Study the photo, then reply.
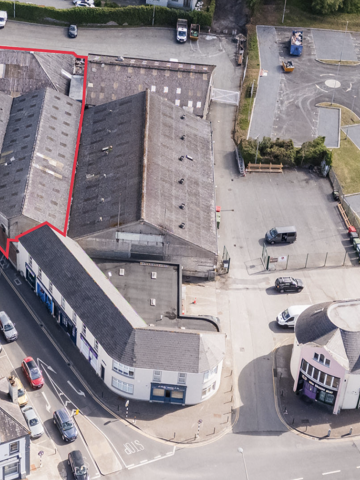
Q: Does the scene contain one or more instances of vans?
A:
Yes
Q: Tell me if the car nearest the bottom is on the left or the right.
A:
left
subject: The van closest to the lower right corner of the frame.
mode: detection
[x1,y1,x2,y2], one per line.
[273,299,318,327]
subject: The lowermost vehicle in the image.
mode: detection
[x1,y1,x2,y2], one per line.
[67,448,91,480]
